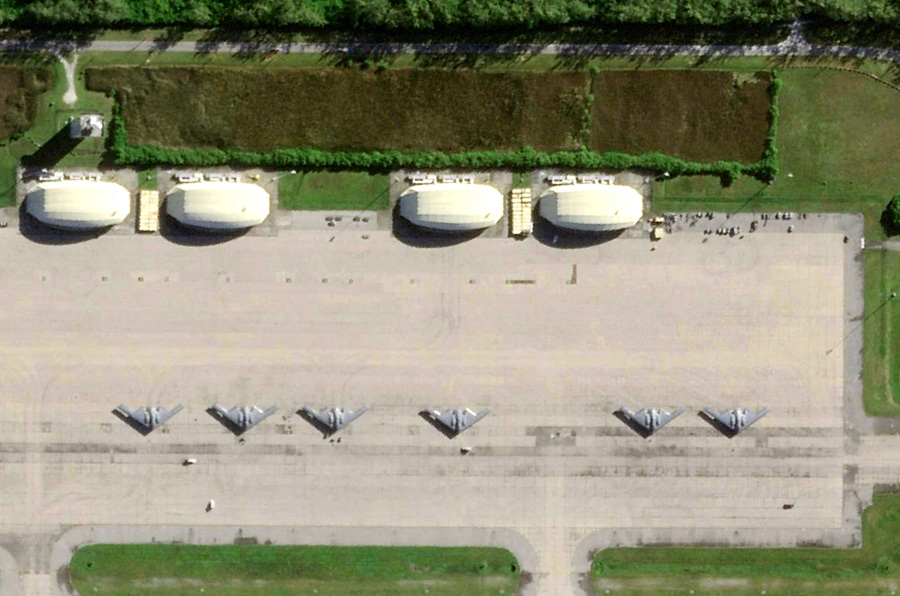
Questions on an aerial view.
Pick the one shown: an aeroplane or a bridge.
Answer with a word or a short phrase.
aeroplane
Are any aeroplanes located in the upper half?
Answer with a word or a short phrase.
No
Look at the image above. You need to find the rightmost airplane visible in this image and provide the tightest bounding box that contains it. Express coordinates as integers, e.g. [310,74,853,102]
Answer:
[705,403,773,430]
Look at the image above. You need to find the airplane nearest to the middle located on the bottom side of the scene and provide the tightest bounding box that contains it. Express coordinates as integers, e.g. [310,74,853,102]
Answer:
[425,403,493,431]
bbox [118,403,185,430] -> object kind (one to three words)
airplane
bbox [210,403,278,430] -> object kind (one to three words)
airplane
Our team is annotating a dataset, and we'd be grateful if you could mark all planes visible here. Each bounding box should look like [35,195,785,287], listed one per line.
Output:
[620,404,687,431]
[210,403,278,430]
[705,403,773,430]
[301,403,370,431]
[425,403,493,431]
[118,403,185,430]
